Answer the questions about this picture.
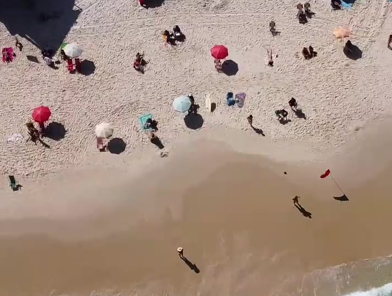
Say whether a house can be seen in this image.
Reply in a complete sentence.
No, I can see no house in this picture.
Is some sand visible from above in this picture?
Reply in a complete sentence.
Yes, the picture does contain sand.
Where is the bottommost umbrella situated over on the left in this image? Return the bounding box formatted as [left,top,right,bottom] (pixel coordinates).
[96,127,116,141]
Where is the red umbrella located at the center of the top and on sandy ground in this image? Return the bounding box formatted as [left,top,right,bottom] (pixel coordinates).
[210,47,229,63]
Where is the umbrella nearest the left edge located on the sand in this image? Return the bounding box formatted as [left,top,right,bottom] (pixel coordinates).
[32,109,53,125]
